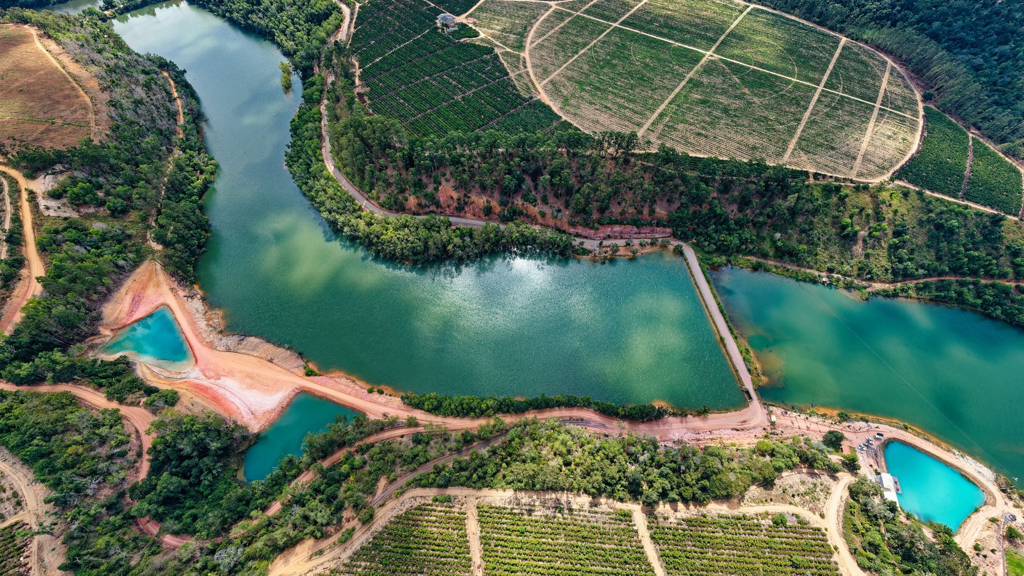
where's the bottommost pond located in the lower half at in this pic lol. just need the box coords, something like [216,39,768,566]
[884,440,985,531]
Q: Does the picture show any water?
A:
Yes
